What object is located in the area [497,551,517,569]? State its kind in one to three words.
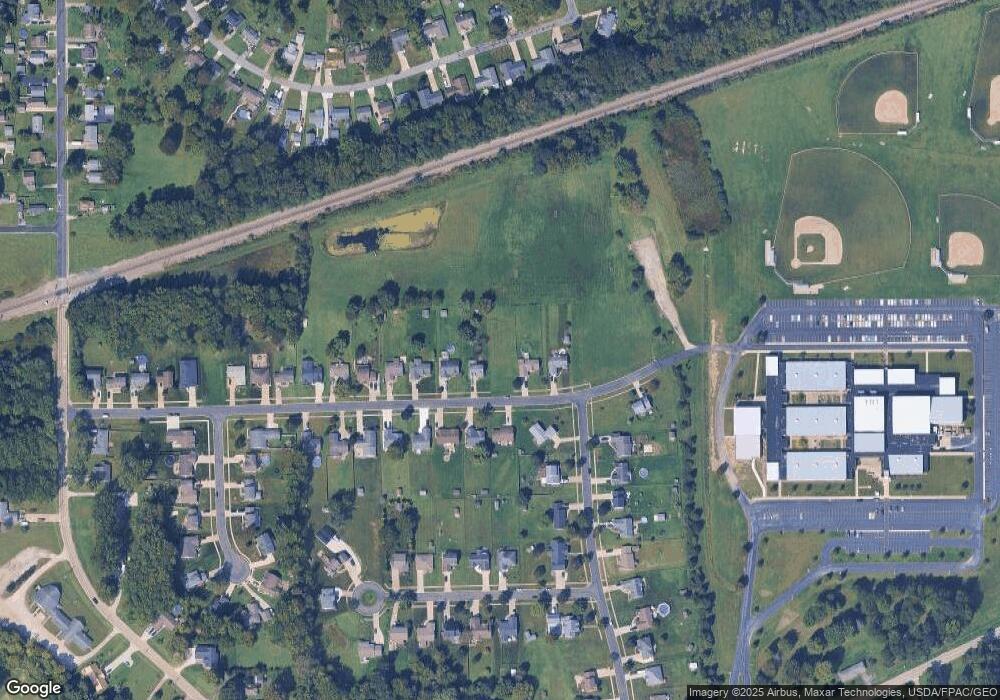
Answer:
house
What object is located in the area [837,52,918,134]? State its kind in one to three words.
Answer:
baseball field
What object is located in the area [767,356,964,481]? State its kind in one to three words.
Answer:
building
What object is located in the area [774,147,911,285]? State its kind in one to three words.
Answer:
baseball field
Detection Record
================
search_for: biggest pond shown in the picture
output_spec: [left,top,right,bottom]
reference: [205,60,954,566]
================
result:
[324,201,448,259]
